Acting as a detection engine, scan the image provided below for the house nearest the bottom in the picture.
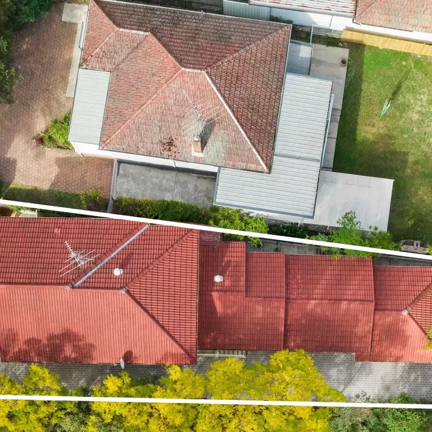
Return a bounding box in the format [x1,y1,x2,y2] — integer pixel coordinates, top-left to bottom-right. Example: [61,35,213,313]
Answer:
[0,215,432,366]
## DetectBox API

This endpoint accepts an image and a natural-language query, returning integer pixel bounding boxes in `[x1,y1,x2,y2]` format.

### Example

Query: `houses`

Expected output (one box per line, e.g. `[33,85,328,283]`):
[67,0,337,223]
[0,215,432,366]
